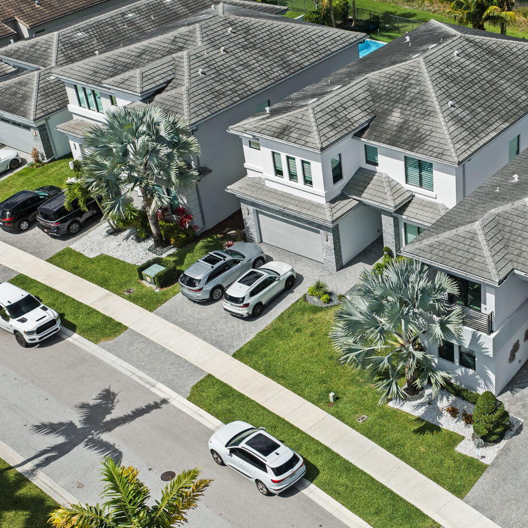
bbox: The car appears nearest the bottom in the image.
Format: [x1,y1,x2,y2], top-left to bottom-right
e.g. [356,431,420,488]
[212,427,308,499]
